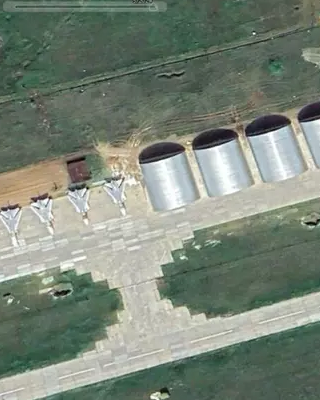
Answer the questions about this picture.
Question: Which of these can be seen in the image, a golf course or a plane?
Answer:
plane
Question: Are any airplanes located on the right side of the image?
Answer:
No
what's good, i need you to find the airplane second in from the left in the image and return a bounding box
[32,195,54,236]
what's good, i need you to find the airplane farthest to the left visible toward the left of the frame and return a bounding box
[0,207,21,248]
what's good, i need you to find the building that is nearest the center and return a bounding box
[139,150,200,211]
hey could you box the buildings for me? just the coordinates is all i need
[246,123,309,183]
[298,116,320,169]
[66,157,92,184]
[139,150,200,211]
[193,136,254,198]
